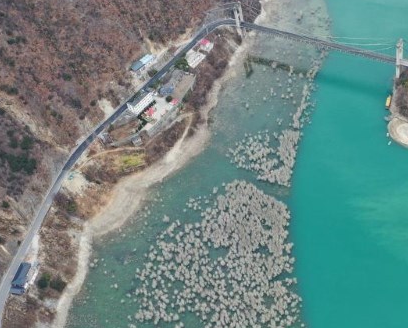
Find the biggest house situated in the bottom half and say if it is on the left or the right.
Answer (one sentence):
The biggest house situated in the bottom half is on the left side of the image.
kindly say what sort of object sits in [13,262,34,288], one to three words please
house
